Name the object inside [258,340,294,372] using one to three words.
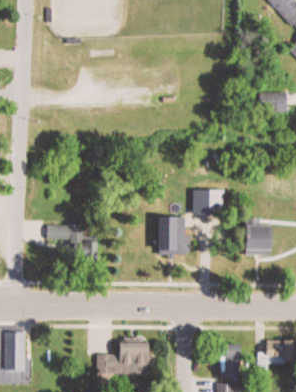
house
